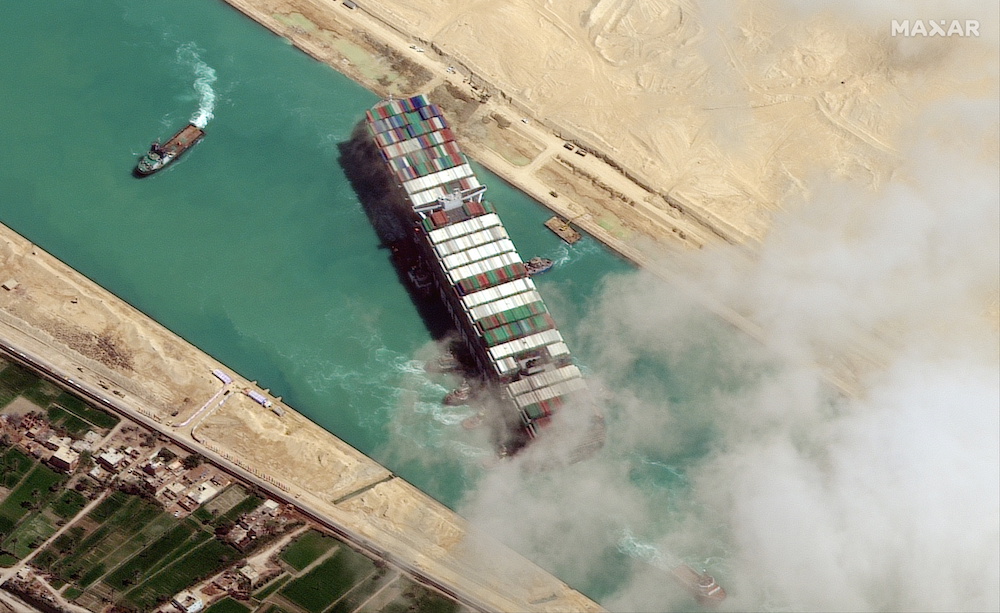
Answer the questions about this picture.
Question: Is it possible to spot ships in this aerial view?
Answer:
Yes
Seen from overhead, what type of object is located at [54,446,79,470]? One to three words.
house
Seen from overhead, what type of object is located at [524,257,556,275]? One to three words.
boat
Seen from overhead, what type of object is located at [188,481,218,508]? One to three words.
house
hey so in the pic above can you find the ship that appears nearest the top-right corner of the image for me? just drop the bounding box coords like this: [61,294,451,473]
[544,215,581,244]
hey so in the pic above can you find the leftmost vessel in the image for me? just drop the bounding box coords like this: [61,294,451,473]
[136,122,203,171]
